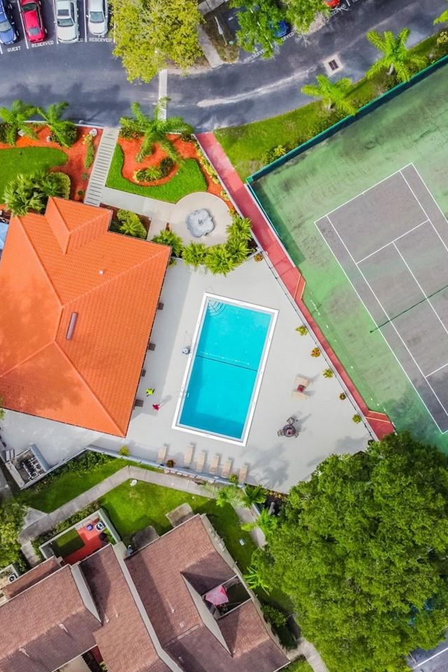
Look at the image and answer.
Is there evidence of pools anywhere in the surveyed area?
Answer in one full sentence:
Yes, a pool can be made out from above.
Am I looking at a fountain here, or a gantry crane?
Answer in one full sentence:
Visible in the photo is a fountain.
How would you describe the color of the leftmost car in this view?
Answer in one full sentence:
From above, the leftmost car appears blue.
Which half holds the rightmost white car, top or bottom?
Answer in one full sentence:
It is in the top half that the rightmost white car appears.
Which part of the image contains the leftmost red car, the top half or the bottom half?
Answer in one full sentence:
It is in the top half that the leftmost red car appears.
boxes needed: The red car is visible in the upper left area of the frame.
[20,0,47,43]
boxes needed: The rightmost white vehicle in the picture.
[85,0,110,38]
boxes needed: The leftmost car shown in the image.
[0,0,21,48]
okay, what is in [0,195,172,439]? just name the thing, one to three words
building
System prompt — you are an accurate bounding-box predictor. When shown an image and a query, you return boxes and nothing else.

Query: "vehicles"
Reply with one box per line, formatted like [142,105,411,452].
[0,0,21,48]
[20,0,47,43]
[52,0,80,46]
[268,2,293,41]
[85,0,110,38]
